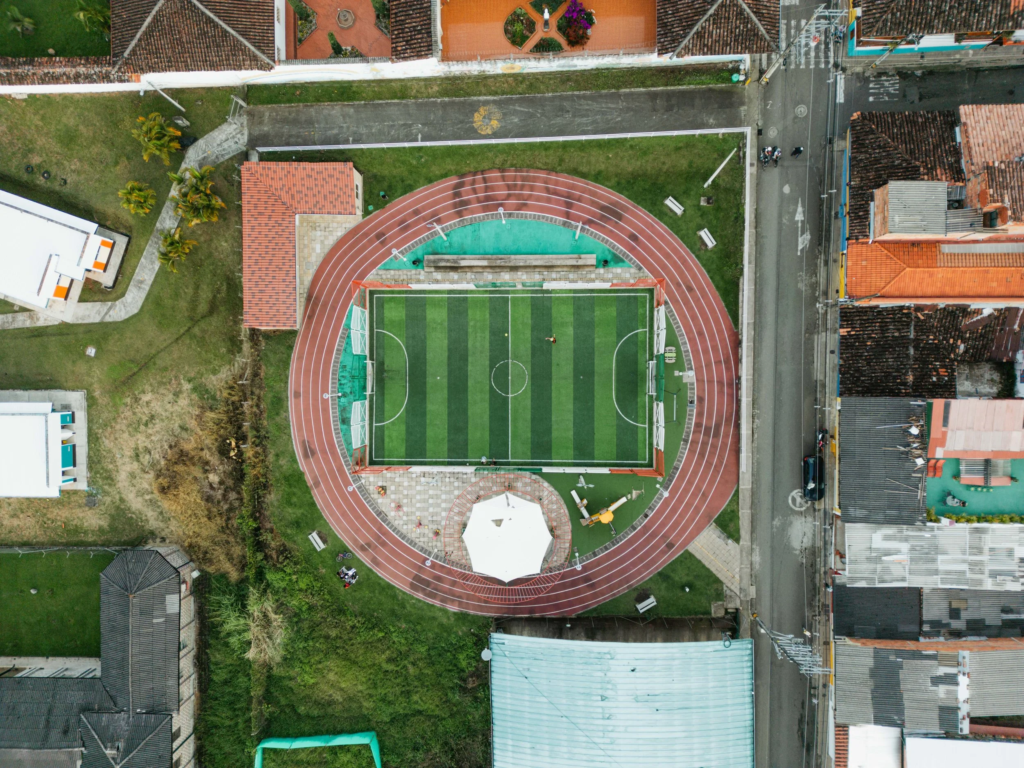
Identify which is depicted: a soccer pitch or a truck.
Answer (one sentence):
There is a soccer pitch in the scene.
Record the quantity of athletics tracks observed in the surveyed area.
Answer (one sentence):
The picture shows 1 athletics track.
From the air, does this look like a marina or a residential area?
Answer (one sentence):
The area seen from above is a residential area.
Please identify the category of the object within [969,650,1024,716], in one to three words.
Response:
shed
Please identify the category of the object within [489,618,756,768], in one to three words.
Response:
building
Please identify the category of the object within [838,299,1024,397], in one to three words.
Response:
house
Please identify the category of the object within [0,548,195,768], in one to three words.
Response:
house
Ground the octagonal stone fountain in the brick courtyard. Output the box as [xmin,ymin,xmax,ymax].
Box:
[336,8,354,28]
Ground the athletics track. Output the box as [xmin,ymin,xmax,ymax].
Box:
[286,167,740,617]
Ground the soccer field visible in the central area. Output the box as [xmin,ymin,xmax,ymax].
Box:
[366,286,657,470]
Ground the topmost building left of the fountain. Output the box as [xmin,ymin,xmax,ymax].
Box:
[110,0,285,86]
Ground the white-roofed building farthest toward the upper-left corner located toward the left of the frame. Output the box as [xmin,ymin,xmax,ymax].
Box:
[0,190,131,308]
